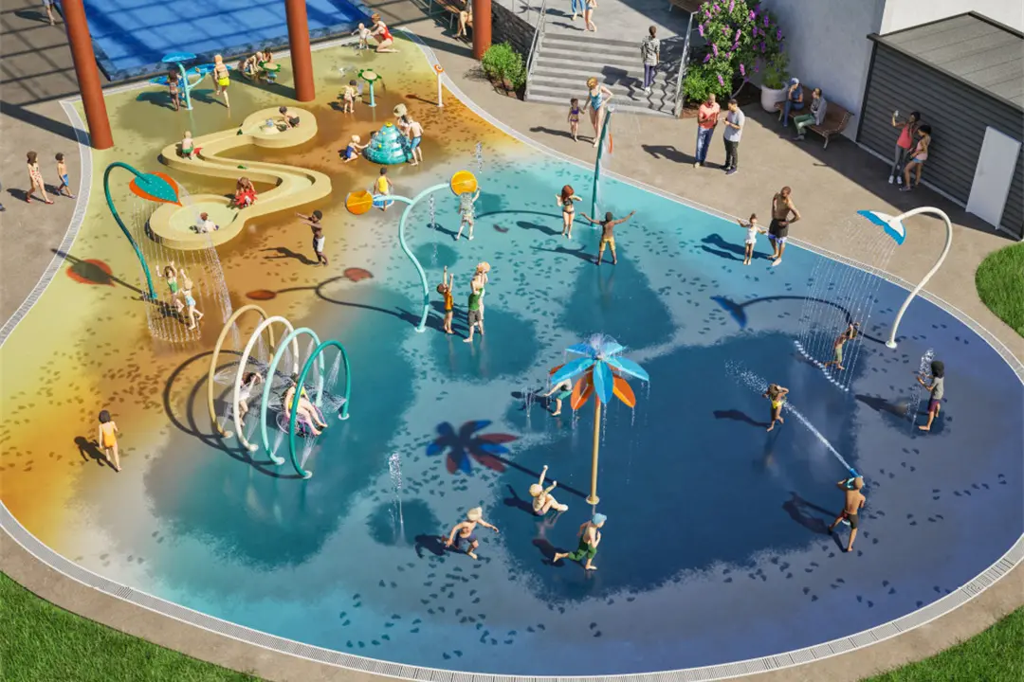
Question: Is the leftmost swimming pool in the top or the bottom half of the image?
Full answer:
You can find the leftmost swimming pool in the top half.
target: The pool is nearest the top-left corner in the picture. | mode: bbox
[33,0,378,82]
